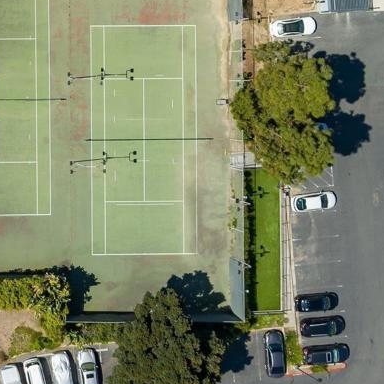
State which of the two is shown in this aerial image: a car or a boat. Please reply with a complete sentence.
There is a car in the scene.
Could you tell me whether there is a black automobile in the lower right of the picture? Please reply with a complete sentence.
Yes, a black automobile appears in the lower right of the picture.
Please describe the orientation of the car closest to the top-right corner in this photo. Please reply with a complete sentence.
The car closest to the top-right corner has been laid out horizontally relative to the frame.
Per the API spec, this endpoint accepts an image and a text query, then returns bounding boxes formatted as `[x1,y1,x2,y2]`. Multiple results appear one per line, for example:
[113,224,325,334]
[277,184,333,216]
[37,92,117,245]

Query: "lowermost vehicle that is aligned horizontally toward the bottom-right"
[299,341,349,365]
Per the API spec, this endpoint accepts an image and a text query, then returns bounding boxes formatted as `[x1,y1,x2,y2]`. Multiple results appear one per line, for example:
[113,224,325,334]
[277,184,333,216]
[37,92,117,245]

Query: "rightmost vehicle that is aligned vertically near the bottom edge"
[261,327,286,377]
